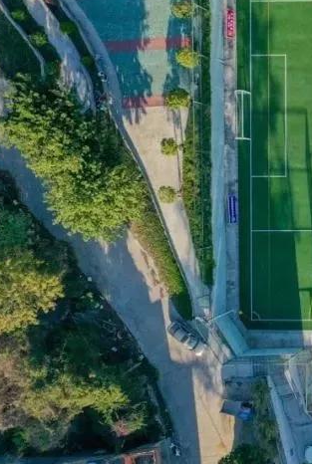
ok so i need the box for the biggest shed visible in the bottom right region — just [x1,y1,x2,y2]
[213,399,250,423]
